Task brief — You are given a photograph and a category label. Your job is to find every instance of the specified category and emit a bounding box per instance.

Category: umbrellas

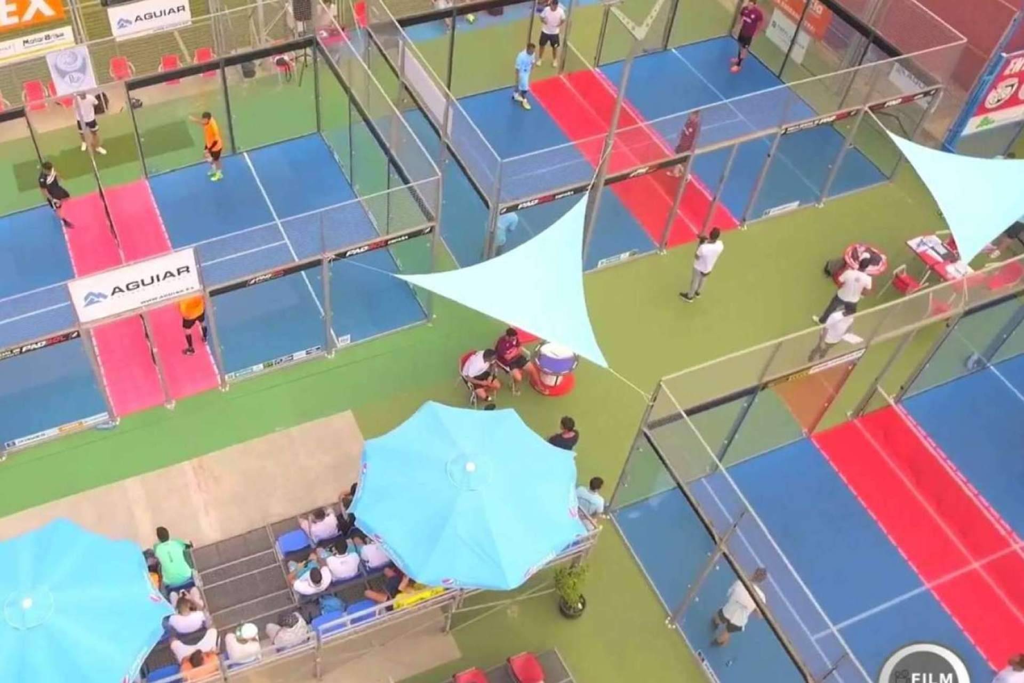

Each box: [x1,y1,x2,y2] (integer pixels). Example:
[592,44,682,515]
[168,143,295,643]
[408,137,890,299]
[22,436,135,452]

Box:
[348,399,589,600]
[0,513,181,683]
